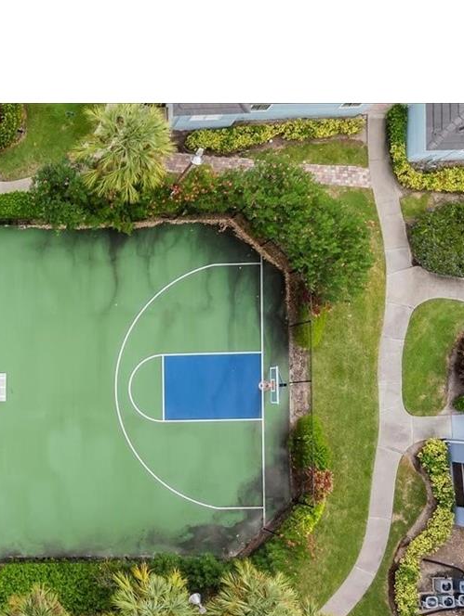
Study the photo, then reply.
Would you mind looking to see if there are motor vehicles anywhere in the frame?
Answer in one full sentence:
No, no motor vehicle can be seen from above.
